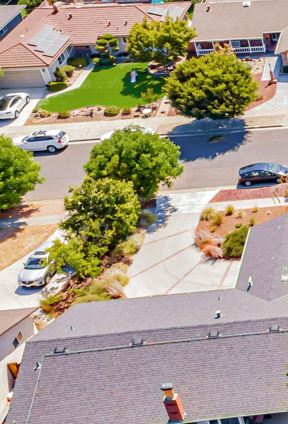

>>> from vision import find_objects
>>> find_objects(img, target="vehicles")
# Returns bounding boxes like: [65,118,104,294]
[0,93,34,119]
[0,240,58,293]
[15,123,70,151]
[234,162,288,187]
[97,122,154,146]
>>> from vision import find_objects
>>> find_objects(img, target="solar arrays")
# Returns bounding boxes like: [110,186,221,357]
[157,1,179,13]
[30,32,65,57]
